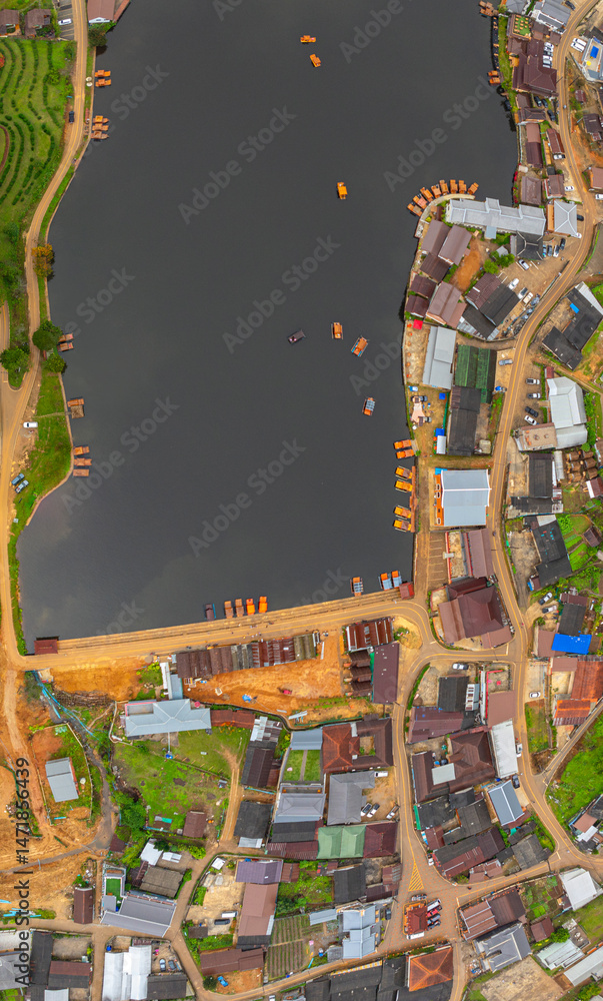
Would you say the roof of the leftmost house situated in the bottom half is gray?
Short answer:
Yes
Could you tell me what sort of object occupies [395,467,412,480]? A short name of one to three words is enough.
boat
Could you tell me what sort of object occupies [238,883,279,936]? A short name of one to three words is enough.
house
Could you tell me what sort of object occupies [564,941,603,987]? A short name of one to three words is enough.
shed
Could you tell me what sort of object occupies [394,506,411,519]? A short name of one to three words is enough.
boat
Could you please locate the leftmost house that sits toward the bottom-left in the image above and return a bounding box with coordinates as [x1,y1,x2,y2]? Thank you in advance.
[0,948,30,991]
